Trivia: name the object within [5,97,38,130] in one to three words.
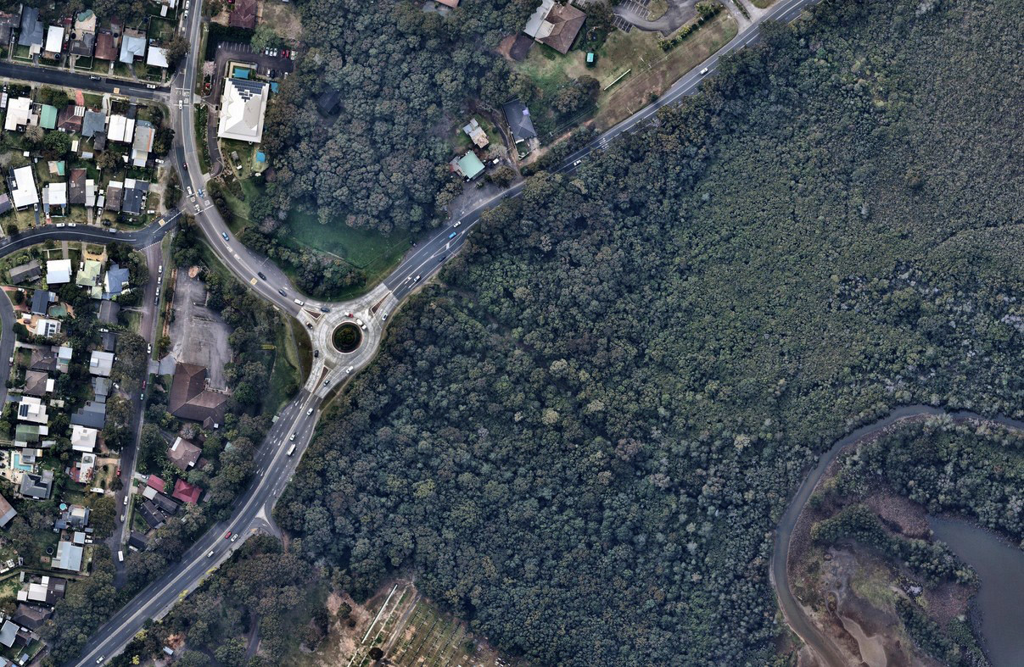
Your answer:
house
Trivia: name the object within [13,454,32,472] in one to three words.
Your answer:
swimming pool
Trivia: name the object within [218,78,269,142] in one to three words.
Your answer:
building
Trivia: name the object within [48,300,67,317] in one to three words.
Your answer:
swimming pool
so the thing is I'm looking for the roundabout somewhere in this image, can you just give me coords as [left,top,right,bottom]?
[297,283,399,398]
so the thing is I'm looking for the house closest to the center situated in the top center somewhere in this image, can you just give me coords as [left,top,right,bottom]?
[451,150,485,178]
